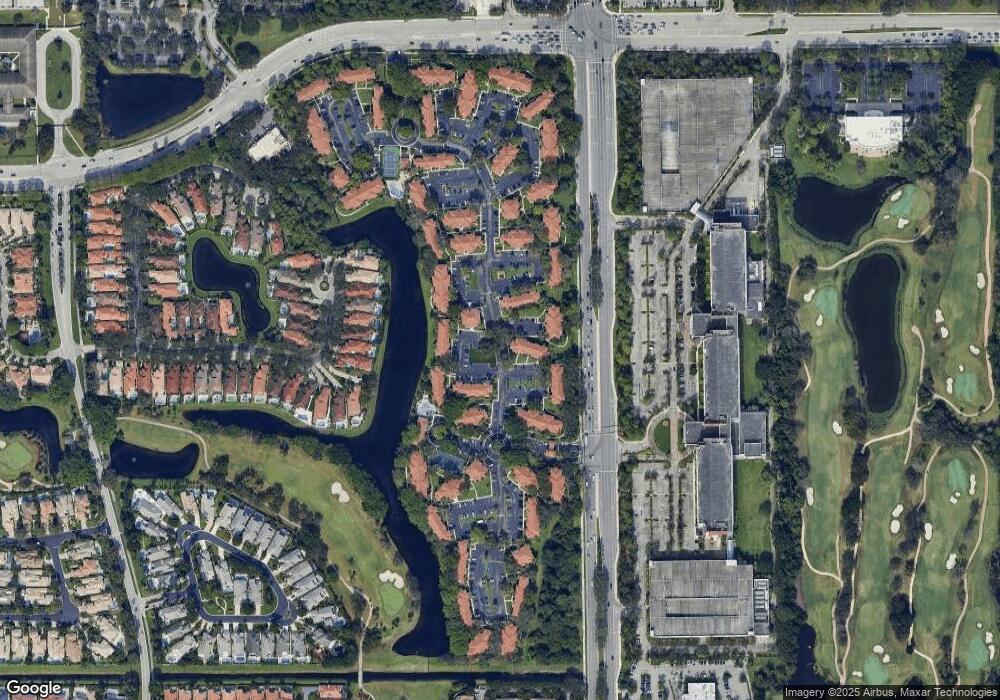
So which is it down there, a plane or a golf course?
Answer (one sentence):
Of the two, only a golf course appears.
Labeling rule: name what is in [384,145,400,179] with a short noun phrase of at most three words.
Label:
tennis court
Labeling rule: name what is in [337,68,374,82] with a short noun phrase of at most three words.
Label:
building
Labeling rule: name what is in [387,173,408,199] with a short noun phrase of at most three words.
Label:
swimming pool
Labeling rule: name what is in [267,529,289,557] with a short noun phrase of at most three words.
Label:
house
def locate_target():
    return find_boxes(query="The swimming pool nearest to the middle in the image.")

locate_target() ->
[417,395,436,415]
